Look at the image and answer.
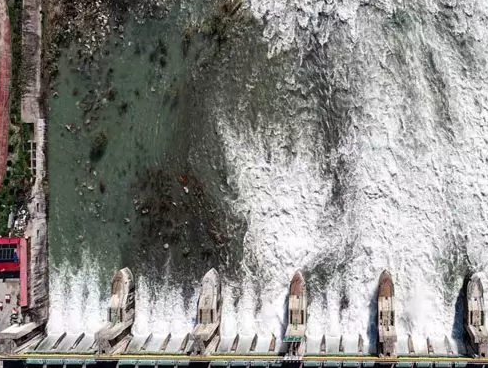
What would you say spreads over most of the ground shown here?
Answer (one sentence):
The bulk of the photo consists of water.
